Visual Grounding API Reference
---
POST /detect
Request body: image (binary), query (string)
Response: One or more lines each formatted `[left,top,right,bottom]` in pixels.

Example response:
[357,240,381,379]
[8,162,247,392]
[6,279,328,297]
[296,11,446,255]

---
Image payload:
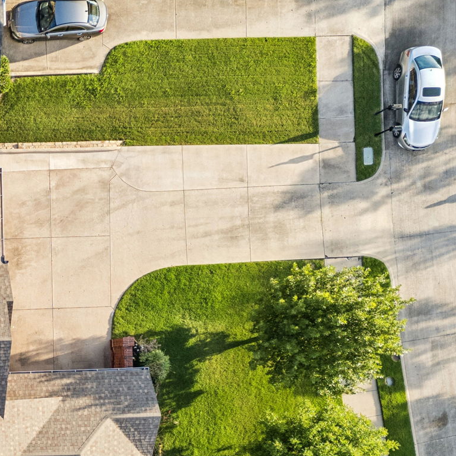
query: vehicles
[7,0,111,48]
[392,44,451,152]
